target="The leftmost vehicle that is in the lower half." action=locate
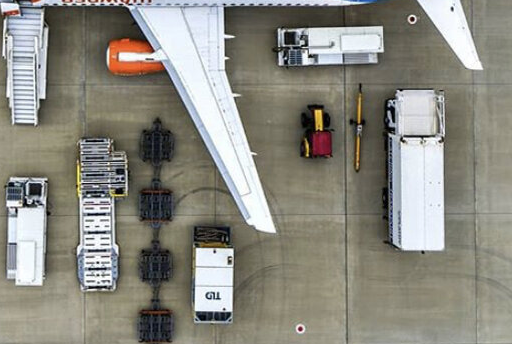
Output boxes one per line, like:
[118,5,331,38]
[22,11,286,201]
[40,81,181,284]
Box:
[11,176,51,288]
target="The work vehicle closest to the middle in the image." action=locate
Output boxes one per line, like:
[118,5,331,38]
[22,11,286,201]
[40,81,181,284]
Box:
[301,106,335,158]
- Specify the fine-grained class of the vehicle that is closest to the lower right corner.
truck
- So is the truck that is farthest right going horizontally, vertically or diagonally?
vertically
